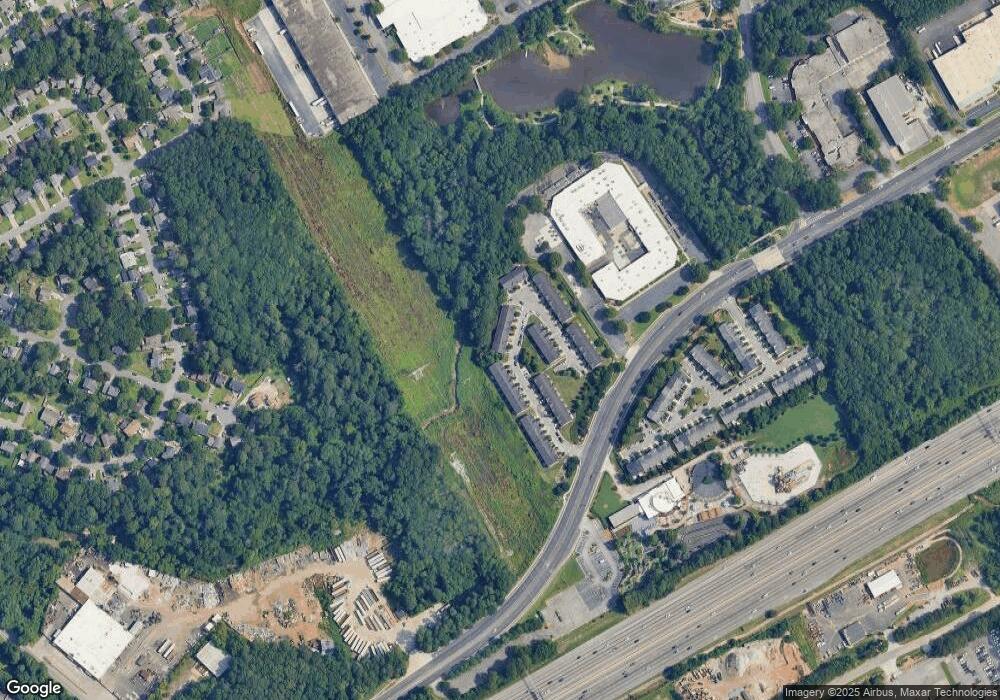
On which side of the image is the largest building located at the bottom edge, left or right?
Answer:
left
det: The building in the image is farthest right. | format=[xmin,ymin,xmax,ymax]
[933,3,1000,108]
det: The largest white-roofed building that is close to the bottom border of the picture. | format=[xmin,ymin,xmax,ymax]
[52,599,133,679]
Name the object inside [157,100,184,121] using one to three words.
house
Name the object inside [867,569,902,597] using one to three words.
barn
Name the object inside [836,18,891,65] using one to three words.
building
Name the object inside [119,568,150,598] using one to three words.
shed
